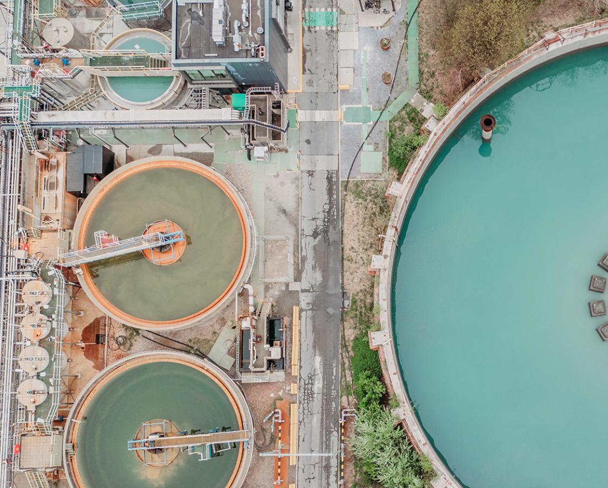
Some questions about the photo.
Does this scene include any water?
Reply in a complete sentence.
Yes, the picture does contain water.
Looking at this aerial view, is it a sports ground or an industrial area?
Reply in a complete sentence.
The area seen from above is an industrial area.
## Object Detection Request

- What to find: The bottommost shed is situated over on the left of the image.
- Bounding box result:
[67,145,118,200]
